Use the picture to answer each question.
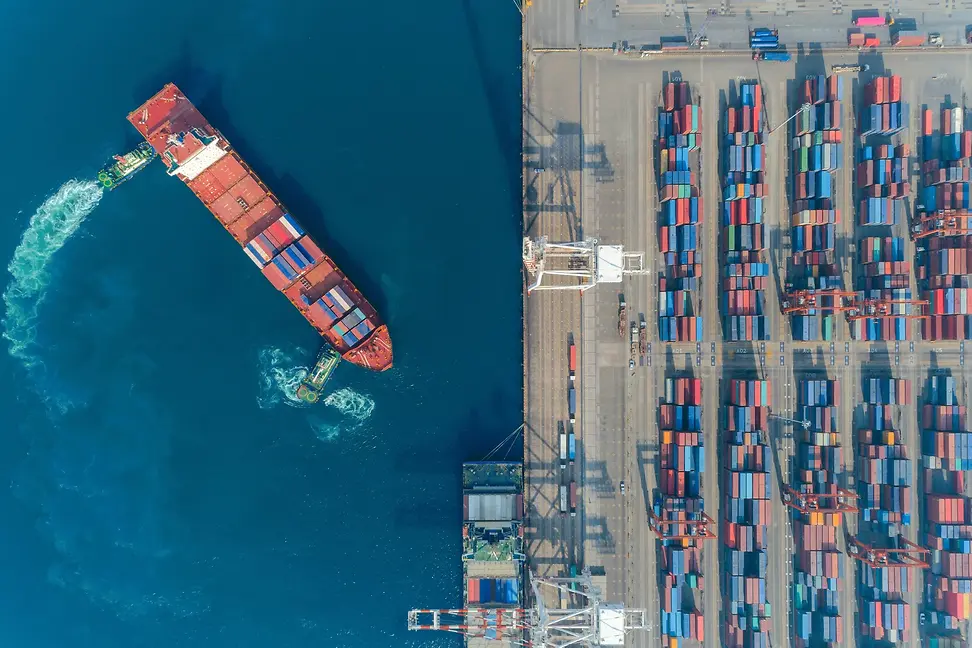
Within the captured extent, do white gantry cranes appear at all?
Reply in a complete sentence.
Yes, the photo shows a white gantry crane.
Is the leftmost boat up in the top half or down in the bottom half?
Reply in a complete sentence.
The leftmost boat is in the top half of the image.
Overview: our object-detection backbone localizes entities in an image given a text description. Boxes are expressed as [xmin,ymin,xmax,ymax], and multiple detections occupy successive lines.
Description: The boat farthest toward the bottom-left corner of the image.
[298,343,340,404]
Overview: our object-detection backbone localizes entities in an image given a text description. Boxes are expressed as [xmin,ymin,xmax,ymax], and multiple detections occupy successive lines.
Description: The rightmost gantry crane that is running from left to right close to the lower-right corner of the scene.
[844,528,929,566]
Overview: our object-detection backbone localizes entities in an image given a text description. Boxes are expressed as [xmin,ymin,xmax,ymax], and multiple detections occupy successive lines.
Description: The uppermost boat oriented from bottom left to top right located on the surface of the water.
[96,146,157,192]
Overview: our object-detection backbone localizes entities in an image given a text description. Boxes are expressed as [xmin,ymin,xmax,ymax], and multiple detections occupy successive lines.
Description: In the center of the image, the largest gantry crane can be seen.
[521,233,649,303]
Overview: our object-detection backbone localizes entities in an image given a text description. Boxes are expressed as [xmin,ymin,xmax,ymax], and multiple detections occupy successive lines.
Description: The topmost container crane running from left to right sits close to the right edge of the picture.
[909,213,972,242]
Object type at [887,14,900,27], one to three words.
vehicle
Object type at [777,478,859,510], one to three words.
container crane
